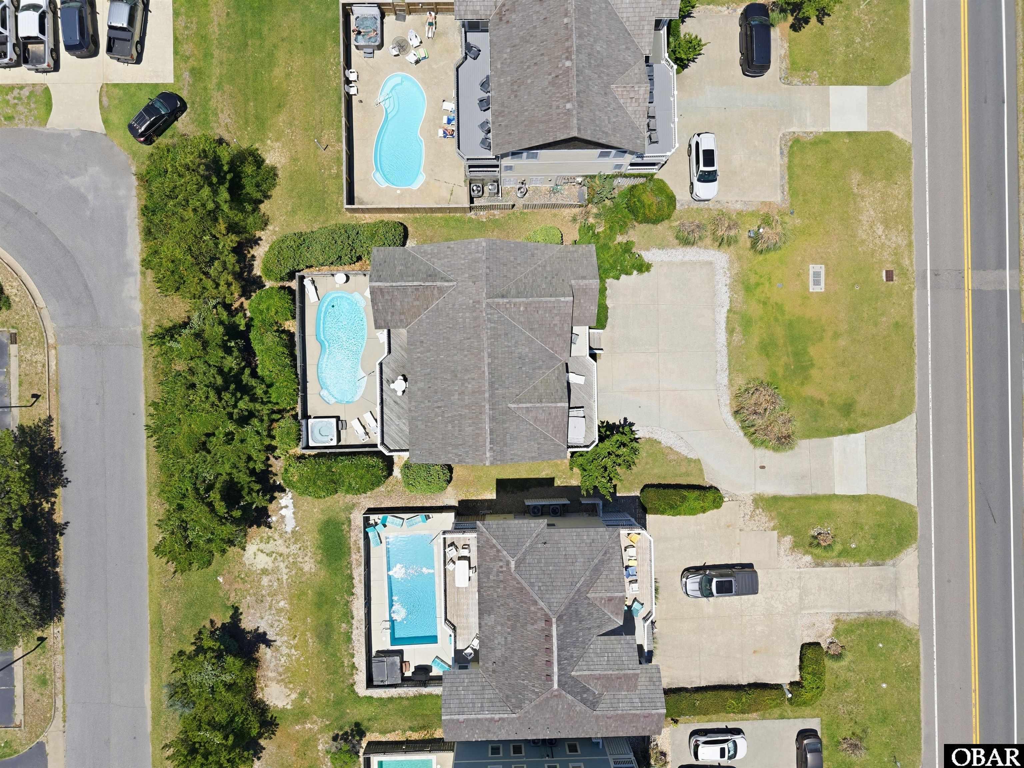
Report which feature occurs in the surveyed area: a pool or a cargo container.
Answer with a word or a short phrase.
pool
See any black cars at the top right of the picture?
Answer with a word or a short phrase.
Yes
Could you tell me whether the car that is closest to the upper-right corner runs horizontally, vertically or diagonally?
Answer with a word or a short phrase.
vertically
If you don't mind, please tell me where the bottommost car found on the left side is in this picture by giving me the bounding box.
[128,92,191,143]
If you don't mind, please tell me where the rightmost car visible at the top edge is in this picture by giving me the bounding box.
[733,5,770,81]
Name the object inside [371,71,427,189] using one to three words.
swimming pool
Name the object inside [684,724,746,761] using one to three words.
car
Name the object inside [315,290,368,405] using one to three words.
swimming pool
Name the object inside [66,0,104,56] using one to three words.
car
